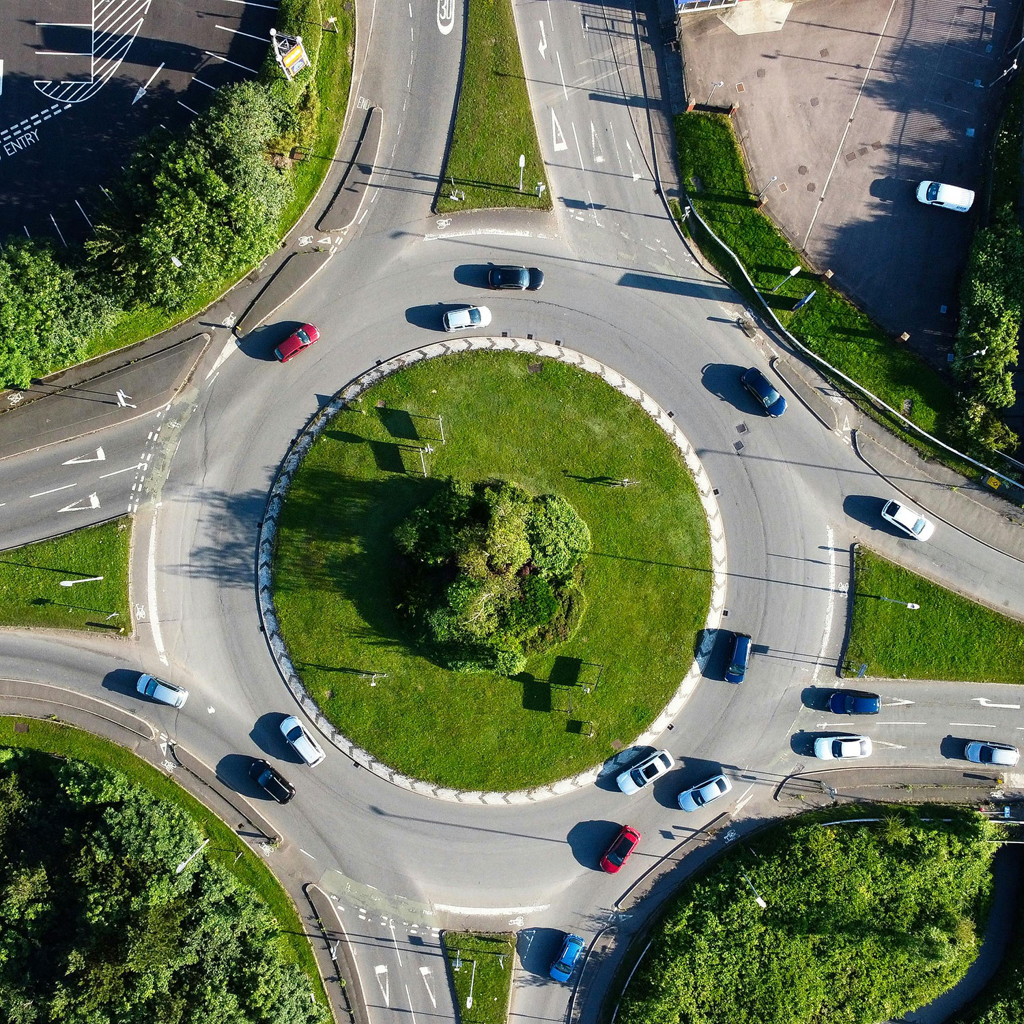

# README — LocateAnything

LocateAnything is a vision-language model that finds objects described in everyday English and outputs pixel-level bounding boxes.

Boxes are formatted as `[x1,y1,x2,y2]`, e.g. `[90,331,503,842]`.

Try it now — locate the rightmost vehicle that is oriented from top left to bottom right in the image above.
[880,499,932,541]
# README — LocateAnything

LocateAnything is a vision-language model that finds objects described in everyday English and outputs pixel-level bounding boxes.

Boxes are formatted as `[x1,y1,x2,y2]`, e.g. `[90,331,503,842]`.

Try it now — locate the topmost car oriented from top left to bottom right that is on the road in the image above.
[741,367,785,416]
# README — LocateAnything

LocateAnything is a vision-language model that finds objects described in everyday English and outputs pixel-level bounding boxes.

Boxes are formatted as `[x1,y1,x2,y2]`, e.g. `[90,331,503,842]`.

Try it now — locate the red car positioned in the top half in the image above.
[273,323,321,362]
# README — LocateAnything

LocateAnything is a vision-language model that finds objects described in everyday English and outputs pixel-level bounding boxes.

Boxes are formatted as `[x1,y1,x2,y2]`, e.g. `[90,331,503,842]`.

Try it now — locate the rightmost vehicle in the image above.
[963,740,1019,766]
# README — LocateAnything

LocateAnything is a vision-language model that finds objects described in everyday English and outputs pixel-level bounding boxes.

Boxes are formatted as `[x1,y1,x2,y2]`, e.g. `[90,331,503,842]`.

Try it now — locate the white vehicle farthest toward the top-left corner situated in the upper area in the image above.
[443,304,492,332]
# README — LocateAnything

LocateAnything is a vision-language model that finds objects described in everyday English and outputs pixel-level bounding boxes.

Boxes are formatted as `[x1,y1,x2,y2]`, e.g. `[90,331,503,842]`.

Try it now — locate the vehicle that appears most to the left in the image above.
[137,671,189,708]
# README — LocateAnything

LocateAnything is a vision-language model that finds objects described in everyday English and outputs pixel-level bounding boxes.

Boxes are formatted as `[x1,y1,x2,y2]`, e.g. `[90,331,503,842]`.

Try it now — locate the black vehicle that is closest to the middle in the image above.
[488,264,544,291]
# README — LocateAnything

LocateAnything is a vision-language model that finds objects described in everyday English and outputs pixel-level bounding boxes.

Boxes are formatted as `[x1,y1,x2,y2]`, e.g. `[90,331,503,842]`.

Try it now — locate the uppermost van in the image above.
[914,179,978,213]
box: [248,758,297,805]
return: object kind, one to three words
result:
car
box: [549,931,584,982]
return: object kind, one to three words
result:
car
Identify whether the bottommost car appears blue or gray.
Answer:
blue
